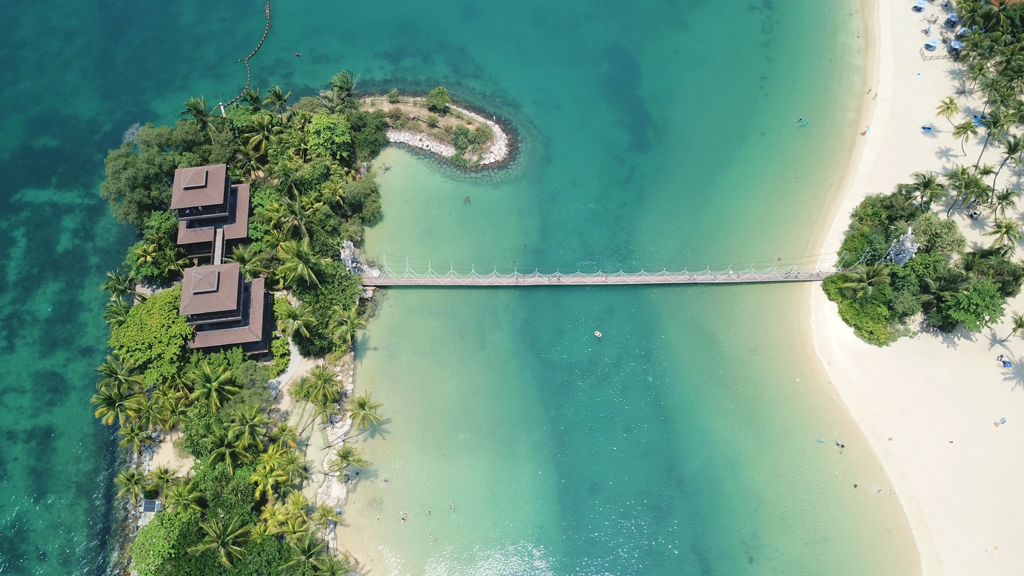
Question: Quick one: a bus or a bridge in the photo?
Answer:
bridge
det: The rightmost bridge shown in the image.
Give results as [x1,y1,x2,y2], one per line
[344,243,906,287]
